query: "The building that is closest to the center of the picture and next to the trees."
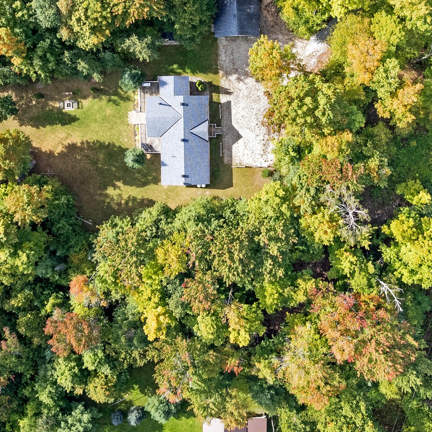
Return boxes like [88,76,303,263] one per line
[129,75,221,185]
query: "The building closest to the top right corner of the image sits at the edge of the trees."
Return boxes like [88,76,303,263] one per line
[215,0,259,38]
